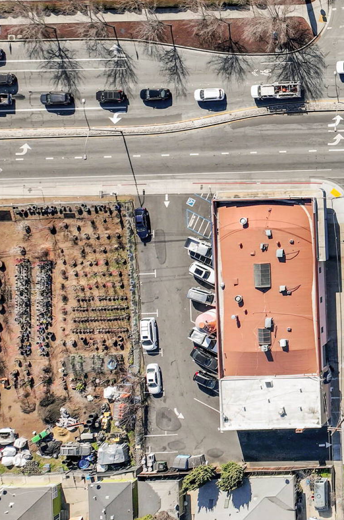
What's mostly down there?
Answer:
paved ground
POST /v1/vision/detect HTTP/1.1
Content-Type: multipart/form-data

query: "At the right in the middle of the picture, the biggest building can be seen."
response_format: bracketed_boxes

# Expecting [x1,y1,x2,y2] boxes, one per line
[213,196,332,379]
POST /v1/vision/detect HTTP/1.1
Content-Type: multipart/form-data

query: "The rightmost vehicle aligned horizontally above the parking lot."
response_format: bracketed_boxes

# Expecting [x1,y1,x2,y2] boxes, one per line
[250,82,303,97]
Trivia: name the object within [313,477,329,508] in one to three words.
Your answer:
vehicle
